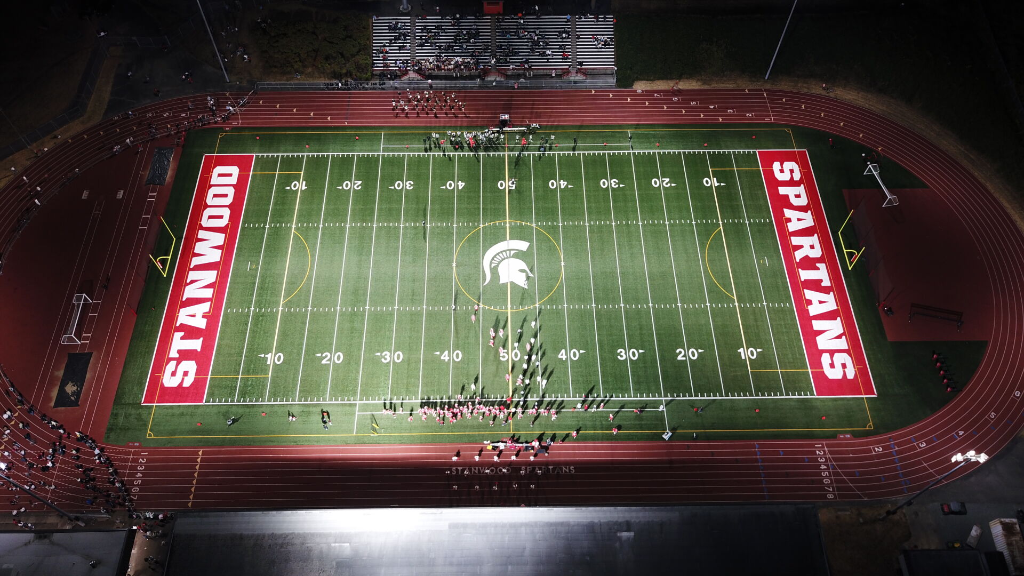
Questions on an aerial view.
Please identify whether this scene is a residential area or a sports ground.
sports ground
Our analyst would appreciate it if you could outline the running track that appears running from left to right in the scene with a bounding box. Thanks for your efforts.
[0,88,1024,514]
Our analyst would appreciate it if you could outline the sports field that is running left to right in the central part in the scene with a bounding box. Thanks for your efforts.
[103,124,990,447]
